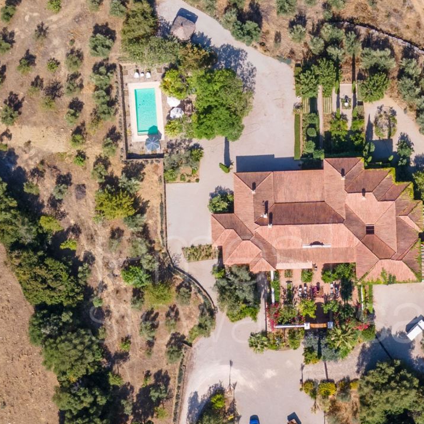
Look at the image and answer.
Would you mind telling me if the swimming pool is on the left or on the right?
left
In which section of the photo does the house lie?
right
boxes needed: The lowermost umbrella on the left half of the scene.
[145,135,161,152]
